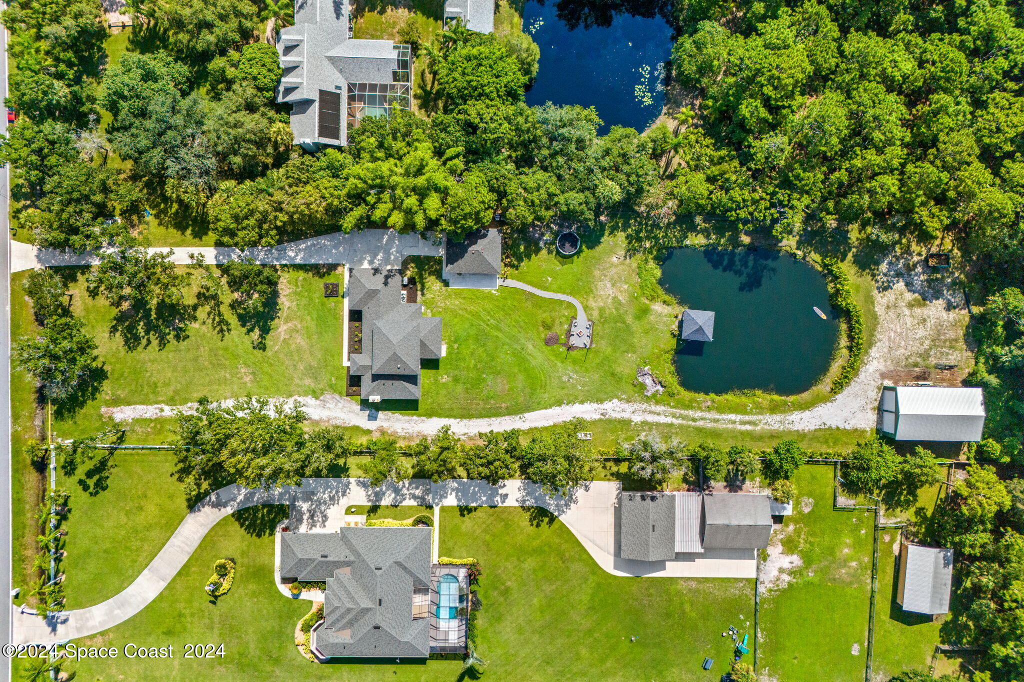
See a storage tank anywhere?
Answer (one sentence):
No, no storage tank is visible in the scene.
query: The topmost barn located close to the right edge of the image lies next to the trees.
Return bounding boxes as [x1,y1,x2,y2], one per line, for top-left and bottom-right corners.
[883,386,988,441]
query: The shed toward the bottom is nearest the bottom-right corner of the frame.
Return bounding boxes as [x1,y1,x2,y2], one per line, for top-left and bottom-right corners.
[895,542,953,615]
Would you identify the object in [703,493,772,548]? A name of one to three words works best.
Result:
building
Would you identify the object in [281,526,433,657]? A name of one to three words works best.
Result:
house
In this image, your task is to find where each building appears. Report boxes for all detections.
[680,309,715,341]
[620,492,675,561]
[703,493,772,548]
[446,228,501,274]
[883,386,988,441]
[444,0,494,35]
[348,267,442,403]
[276,0,396,152]
[281,526,433,657]
[895,542,953,615]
